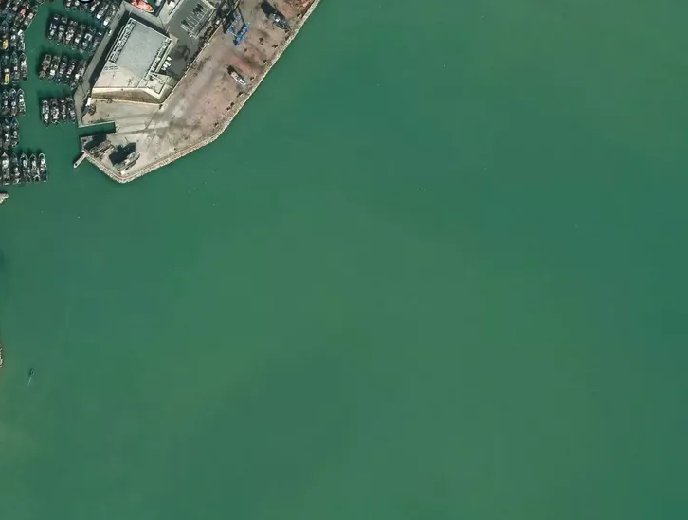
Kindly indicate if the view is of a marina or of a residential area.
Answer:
marina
